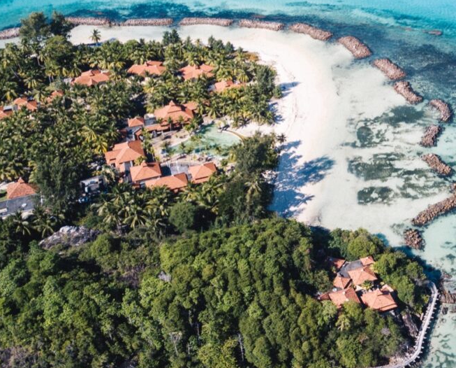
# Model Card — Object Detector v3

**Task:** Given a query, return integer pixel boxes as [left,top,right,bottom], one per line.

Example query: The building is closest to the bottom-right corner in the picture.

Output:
[364,288,397,319]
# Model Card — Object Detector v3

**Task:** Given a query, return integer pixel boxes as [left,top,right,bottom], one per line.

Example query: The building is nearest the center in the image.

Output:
[188,159,217,187]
